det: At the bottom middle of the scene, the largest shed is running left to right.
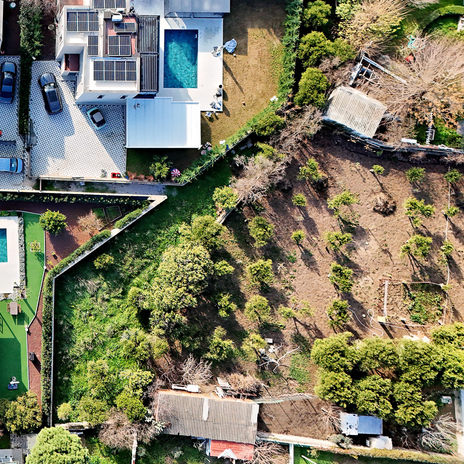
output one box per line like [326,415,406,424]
[154,390,259,445]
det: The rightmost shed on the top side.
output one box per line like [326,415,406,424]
[315,83,389,137]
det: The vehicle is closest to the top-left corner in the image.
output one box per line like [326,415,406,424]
[0,64,17,103]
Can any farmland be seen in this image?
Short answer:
Yes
